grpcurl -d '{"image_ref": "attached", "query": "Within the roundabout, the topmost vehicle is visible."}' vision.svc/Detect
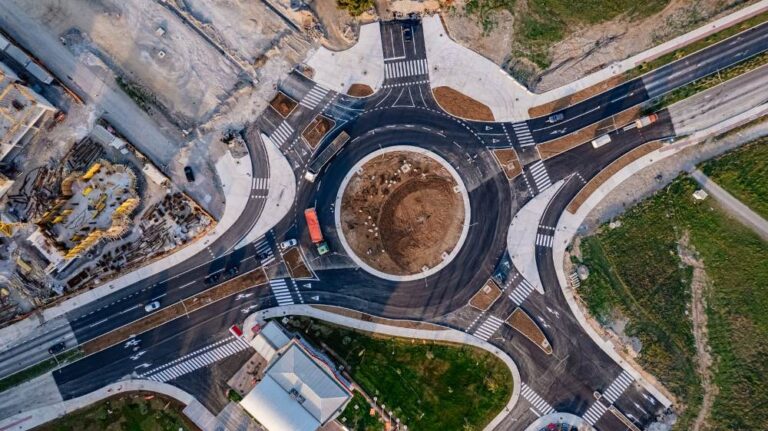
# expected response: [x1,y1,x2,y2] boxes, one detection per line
[303,128,350,181]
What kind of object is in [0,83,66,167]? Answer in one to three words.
building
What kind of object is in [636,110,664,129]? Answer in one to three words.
vehicle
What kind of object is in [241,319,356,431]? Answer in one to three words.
building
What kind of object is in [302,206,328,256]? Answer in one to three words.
truck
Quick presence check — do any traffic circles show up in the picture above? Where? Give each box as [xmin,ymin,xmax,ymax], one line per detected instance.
[268,100,515,325]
